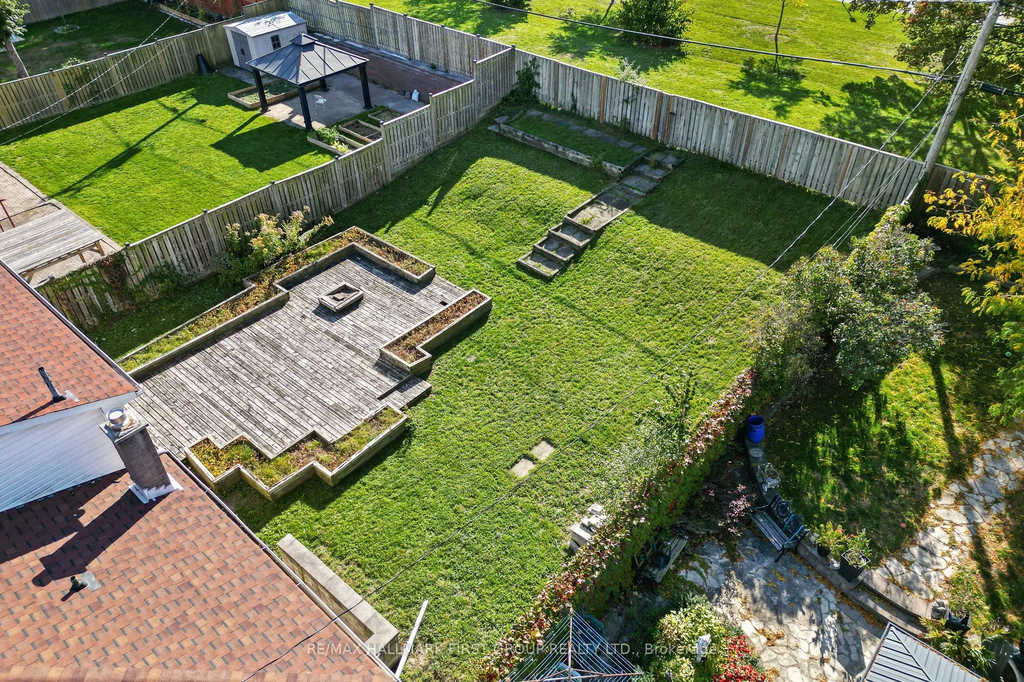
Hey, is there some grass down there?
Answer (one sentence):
Yes, grass can be seen from above here.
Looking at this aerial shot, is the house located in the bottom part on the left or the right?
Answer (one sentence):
You can find the house located in the bottom part on the left side of the picture.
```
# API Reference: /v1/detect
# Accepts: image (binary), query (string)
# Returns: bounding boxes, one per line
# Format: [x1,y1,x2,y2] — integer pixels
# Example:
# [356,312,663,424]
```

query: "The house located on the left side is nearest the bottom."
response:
[0,251,411,682]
